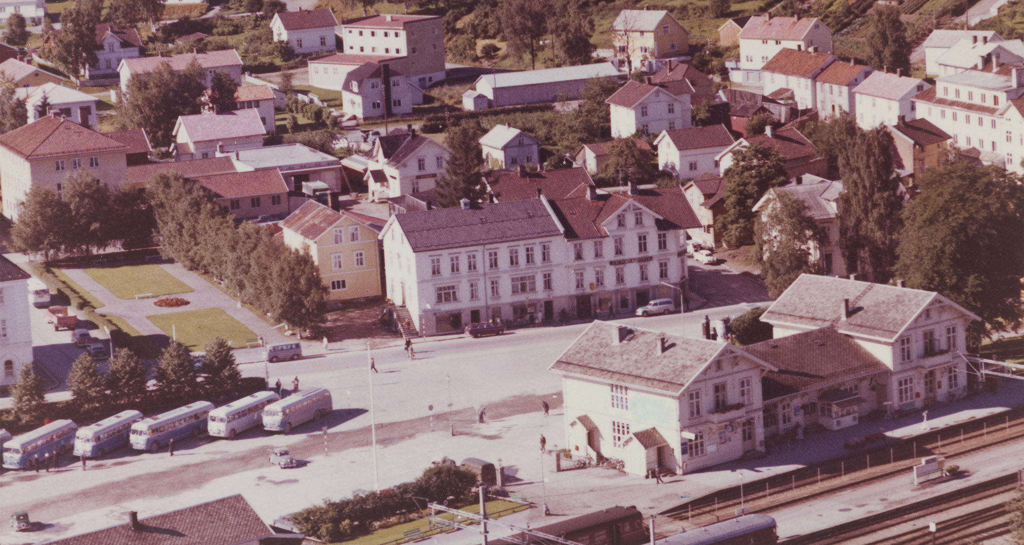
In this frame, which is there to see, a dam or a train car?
train car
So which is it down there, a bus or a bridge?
bus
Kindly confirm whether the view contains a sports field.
No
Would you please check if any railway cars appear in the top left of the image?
No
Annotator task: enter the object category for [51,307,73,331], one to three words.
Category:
truck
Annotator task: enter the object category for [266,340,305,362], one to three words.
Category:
vehicle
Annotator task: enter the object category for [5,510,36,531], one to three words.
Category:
car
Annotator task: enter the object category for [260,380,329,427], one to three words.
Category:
bus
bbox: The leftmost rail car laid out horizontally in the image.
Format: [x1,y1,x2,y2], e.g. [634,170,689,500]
[463,500,650,545]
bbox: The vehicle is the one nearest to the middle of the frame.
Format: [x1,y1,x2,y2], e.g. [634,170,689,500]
[468,324,511,339]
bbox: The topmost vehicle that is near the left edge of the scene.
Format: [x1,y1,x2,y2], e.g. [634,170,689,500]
[28,282,50,309]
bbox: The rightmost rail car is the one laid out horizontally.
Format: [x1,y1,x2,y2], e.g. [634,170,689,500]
[657,514,786,545]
